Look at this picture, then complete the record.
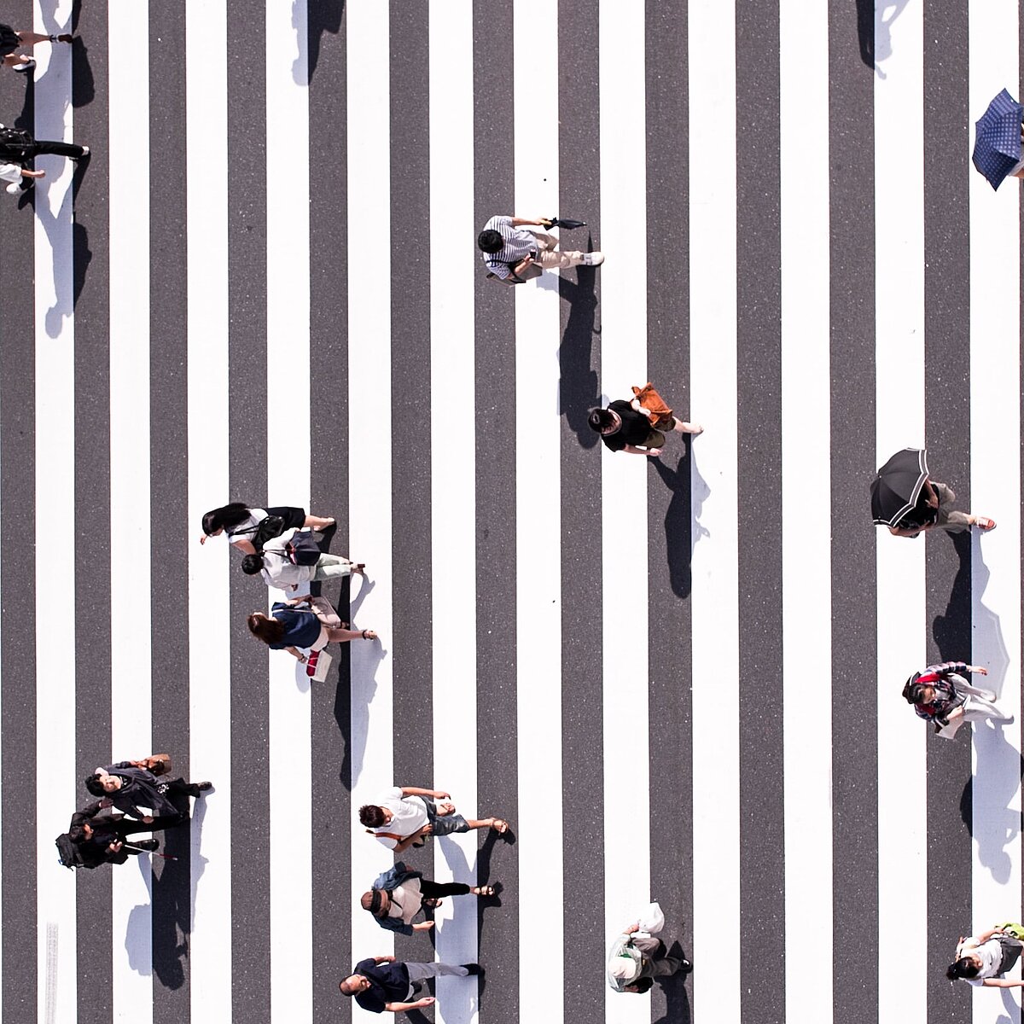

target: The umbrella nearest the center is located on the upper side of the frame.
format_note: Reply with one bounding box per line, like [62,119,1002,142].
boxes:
[535,217,588,231]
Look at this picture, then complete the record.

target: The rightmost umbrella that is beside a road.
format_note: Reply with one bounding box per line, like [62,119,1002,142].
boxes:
[972,87,1024,200]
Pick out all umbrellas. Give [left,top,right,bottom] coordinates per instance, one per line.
[870,446,958,526]
[972,87,1024,200]
[535,217,588,231]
